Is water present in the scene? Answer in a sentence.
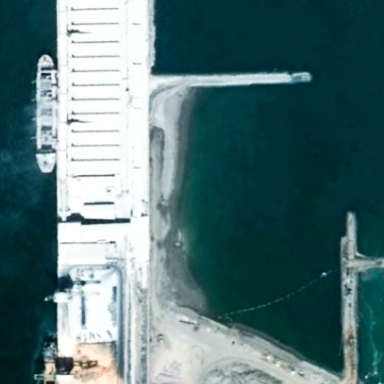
Yes, water can be seen from above here.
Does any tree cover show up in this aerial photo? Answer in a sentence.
No, there's no tree cover in this view.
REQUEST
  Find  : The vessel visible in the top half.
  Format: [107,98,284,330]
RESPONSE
[34,54,56,173]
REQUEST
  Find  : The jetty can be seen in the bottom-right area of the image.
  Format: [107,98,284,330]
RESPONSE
[340,212,384,383]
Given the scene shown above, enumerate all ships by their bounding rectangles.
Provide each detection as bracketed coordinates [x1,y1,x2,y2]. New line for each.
[44,342,56,384]
[34,54,56,173]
